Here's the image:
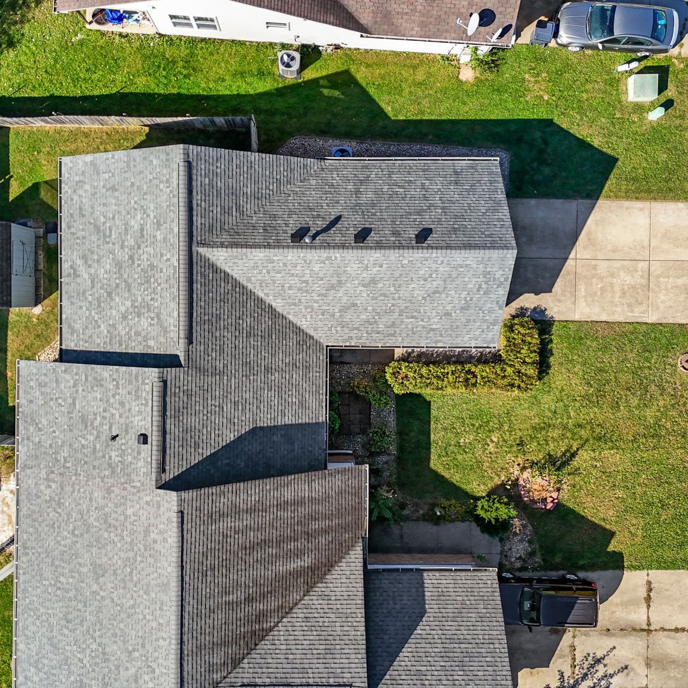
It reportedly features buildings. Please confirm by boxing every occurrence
[12,145,517,688]
[51,0,523,61]
[0,219,33,309]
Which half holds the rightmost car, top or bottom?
top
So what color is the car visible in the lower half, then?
black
